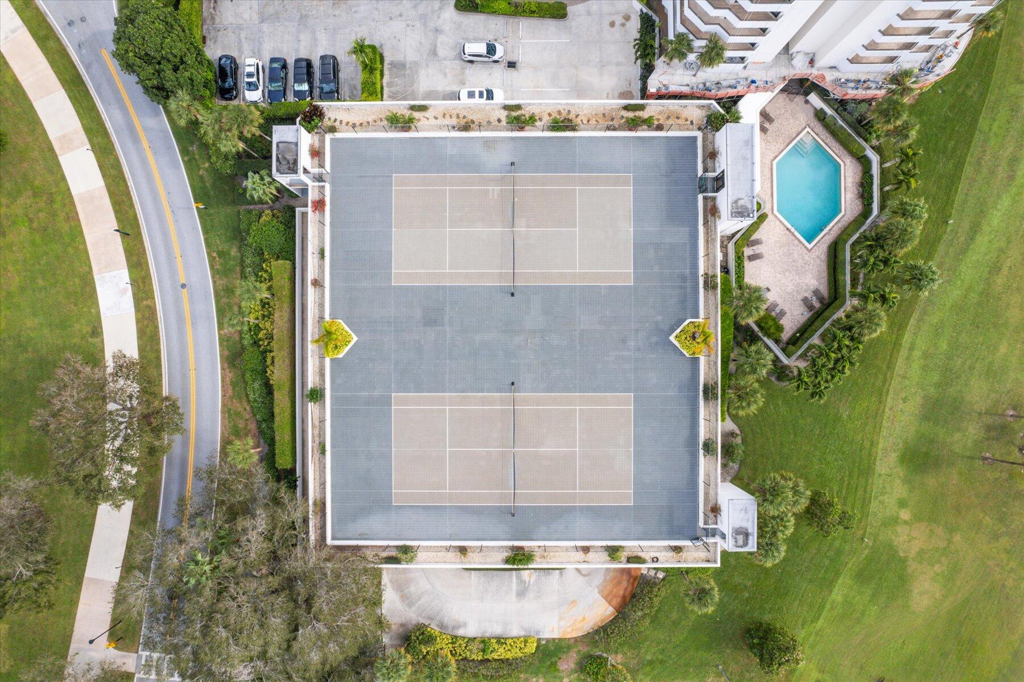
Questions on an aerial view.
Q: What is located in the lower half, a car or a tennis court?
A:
tennis court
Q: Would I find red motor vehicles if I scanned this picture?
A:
No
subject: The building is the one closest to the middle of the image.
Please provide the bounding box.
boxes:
[273,101,757,566]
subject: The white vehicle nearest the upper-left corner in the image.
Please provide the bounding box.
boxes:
[240,55,263,102]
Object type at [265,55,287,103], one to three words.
car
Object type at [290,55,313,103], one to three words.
car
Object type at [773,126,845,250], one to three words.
swimming pool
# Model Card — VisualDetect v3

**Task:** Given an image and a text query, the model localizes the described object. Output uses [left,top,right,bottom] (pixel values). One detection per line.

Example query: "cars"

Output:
[214,53,237,100]
[290,55,313,103]
[316,52,339,101]
[461,39,504,61]
[457,82,504,101]
[265,55,287,103]
[240,55,263,102]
